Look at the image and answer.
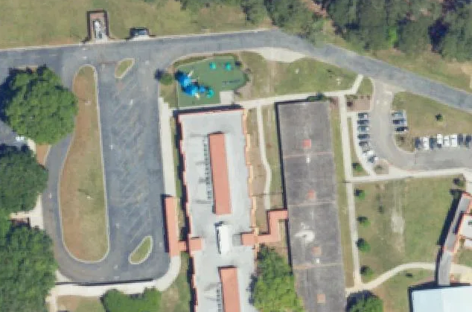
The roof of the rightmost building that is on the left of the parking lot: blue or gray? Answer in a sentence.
In this view, the roof of the rightmost building that is on the left of the parking lot is gray.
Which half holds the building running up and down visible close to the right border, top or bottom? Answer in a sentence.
The building running up and down visible close to the right border is in the bottom half of the image.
